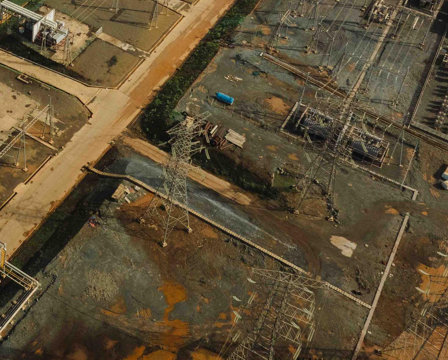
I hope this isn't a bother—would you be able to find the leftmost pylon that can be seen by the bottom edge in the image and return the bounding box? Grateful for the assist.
[220,260,336,360]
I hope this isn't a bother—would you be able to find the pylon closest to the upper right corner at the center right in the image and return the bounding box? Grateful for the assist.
[290,95,380,218]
